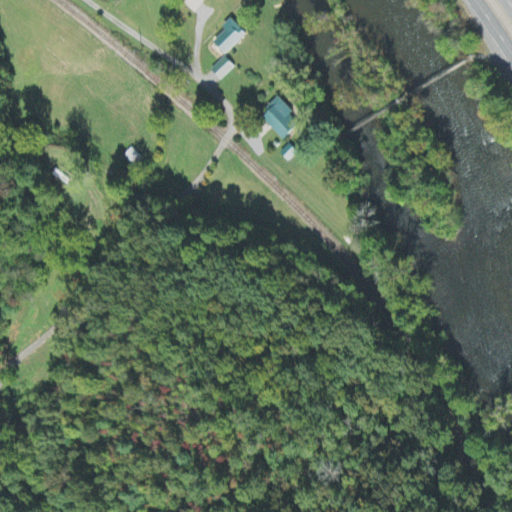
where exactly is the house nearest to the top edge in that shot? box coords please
[214,20,245,52]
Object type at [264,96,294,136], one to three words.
house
